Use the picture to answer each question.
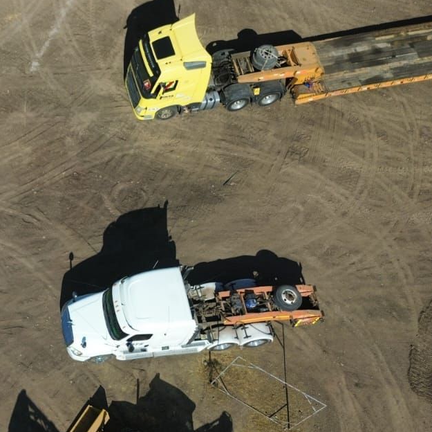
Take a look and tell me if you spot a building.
No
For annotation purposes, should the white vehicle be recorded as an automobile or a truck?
truck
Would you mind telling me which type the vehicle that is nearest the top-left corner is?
truck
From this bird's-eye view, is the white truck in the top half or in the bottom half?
bottom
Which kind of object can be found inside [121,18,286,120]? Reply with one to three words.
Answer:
truck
